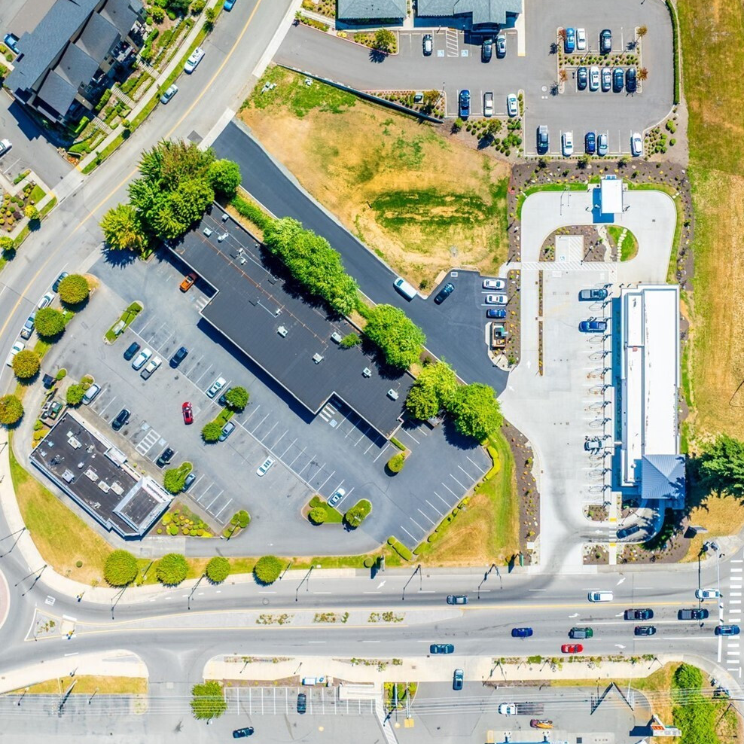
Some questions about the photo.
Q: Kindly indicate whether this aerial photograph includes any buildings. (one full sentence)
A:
Yes, you can see a building in this photo.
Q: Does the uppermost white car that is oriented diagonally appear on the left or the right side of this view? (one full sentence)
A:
It is on the left.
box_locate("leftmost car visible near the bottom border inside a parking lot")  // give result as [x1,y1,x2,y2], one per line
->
[232,725,255,739]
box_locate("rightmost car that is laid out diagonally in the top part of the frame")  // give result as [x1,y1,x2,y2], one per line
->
[434,283,454,305]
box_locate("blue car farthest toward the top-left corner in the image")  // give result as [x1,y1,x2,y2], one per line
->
[1,32,18,51]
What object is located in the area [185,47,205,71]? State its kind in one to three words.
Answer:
car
